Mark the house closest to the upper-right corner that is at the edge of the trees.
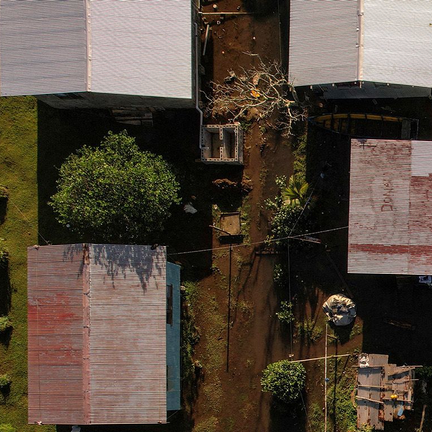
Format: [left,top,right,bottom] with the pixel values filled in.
[289,0,432,101]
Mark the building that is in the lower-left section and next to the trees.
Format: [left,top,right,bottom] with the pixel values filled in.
[27,243,179,427]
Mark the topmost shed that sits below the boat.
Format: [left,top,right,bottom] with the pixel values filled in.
[350,139,432,278]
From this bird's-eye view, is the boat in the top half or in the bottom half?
top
